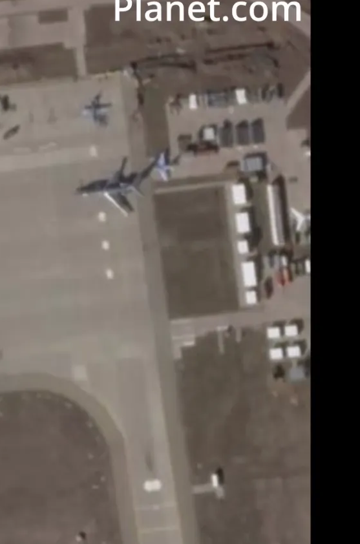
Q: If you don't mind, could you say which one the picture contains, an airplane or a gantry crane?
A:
airplane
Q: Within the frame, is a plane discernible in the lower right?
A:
No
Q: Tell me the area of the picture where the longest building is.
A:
right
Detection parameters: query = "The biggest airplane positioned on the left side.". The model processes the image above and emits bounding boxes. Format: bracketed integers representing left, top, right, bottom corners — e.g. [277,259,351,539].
[76,150,167,209]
